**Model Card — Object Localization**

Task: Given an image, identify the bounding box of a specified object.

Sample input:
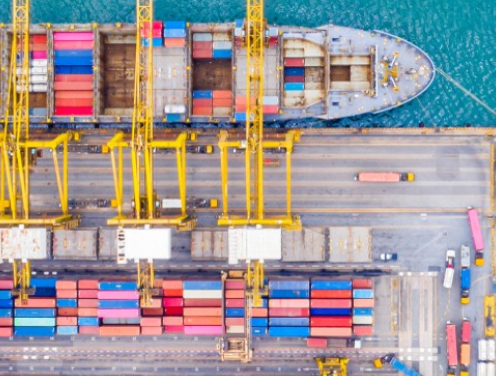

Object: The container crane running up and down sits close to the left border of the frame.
[0,0,83,303]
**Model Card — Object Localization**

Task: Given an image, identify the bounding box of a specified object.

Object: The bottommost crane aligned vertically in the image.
[215,264,260,362]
